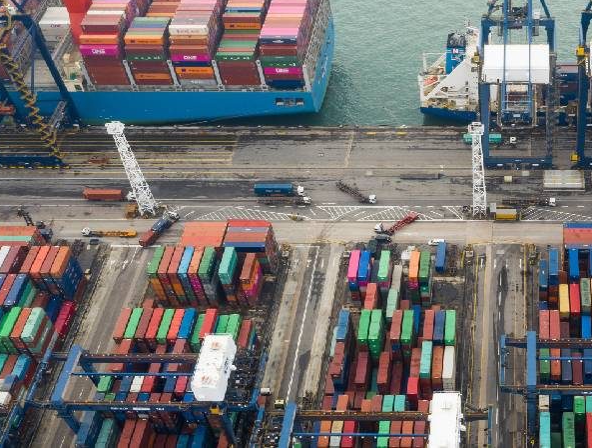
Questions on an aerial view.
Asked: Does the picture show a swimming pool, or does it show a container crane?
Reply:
container crane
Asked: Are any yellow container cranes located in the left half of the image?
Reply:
No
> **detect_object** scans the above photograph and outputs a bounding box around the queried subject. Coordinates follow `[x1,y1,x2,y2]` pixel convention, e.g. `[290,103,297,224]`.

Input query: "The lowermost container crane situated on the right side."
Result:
[254,394,499,448]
